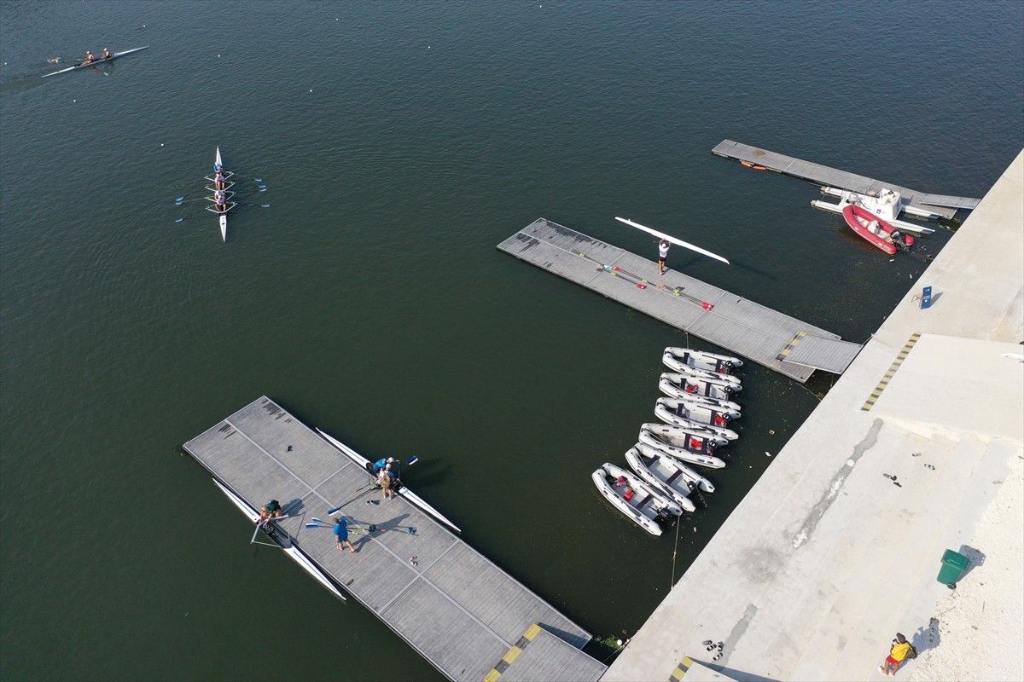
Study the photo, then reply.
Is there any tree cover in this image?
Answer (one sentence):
No, there is no tree cover in the image.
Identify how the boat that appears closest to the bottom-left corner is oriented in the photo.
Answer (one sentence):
In this picture, the boat that appears closest to the bottom-left corner lies diagonally.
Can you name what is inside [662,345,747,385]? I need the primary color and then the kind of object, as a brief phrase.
white boat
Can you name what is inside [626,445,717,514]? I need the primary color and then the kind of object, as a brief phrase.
white boat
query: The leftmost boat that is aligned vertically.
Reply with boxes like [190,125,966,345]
[206,149,235,243]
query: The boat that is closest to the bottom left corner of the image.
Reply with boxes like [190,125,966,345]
[211,480,346,606]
